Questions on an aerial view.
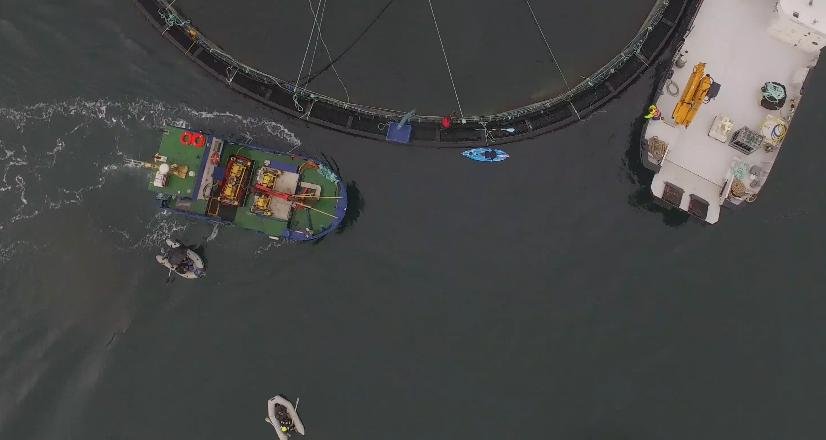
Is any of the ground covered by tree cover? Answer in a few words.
No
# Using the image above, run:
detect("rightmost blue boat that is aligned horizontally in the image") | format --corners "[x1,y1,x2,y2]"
[461,148,510,161]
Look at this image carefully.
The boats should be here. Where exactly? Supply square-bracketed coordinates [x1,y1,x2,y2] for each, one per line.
[153,238,205,279]
[269,395,305,440]
[461,148,510,161]
[633,0,826,220]
[120,127,352,238]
